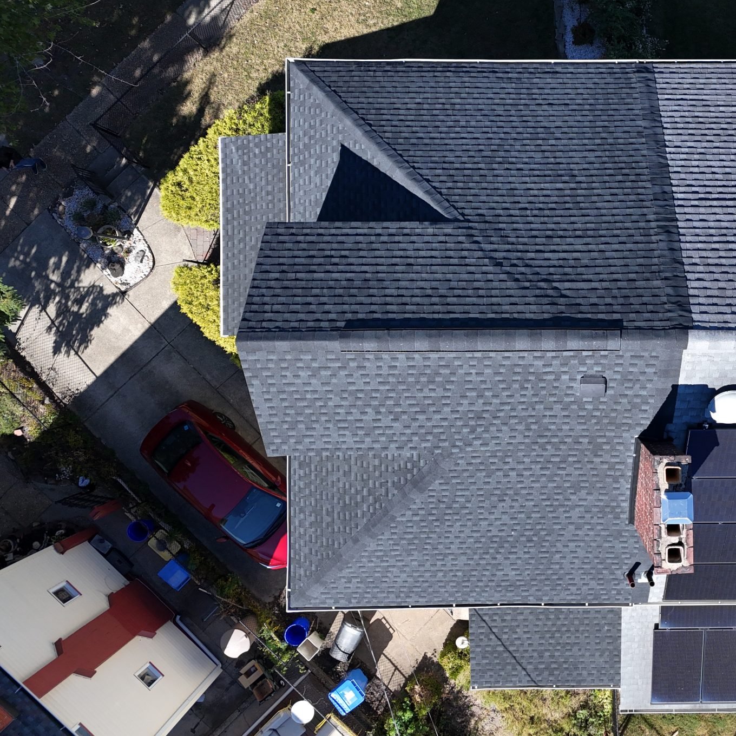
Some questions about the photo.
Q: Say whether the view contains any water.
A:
No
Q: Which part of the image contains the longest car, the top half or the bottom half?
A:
bottom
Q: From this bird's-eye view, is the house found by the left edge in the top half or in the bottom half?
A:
bottom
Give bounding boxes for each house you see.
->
[223,56,736,712]
[0,546,222,736]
